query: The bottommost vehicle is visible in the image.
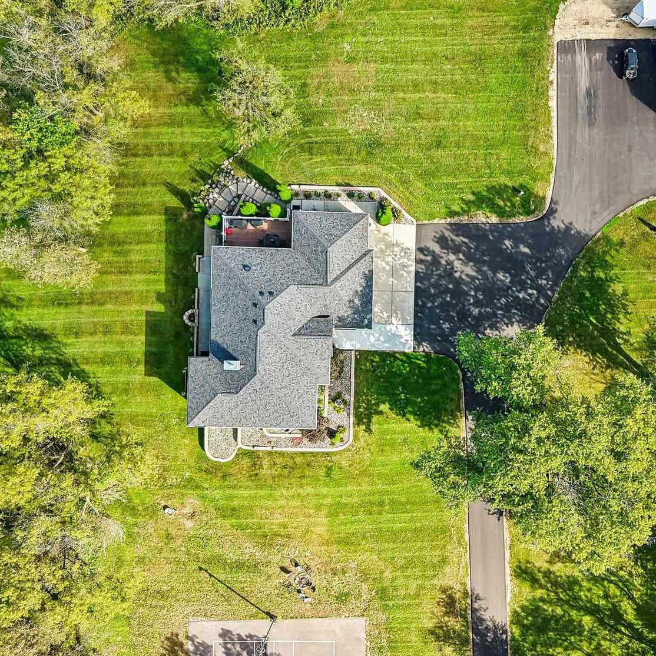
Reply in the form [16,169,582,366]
[624,46,641,76]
